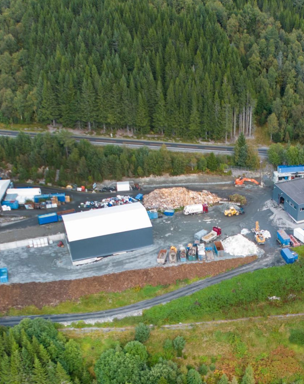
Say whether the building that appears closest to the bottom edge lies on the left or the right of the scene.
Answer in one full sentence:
You can find the building that appears closest to the bottom edge on the left side of the picture.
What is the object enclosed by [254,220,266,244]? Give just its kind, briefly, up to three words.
vehicle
